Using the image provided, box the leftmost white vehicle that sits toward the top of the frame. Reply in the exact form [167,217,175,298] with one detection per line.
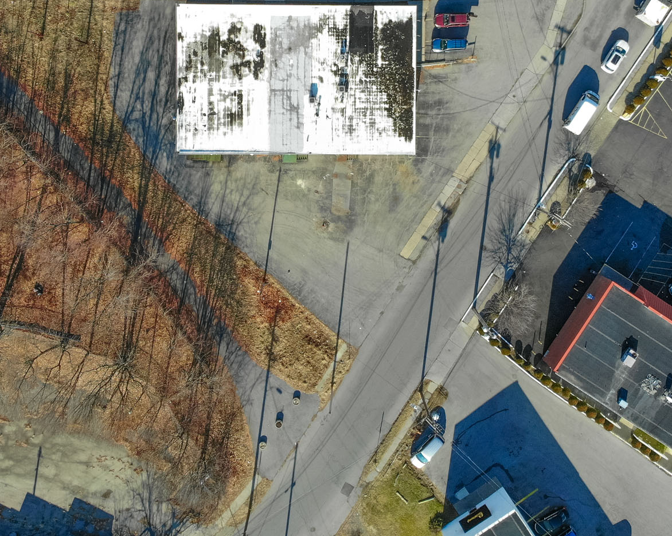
[562,86,600,136]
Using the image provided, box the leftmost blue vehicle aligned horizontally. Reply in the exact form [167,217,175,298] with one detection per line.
[431,36,467,53]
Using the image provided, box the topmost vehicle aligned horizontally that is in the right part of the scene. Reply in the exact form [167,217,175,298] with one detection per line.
[433,11,469,29]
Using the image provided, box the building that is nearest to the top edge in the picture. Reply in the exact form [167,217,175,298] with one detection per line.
[177,5,415,153]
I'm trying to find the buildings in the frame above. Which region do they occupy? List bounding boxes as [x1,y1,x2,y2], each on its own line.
[440,487,532,536]
[542,267,672,446]
[177,5,415,153]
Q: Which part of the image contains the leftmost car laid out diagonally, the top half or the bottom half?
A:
bottom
